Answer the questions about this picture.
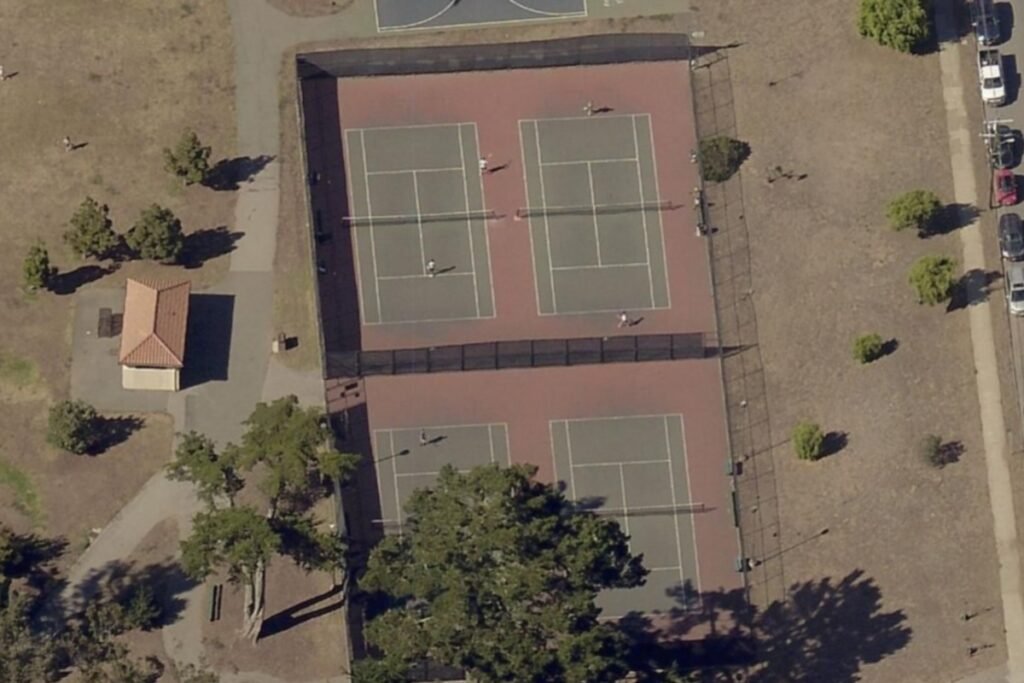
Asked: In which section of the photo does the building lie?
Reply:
left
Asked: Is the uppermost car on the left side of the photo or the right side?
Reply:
right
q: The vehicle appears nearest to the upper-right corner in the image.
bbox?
[973,0,999,43]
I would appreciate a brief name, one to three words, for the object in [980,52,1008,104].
truck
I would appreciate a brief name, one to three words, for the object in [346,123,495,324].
tennis court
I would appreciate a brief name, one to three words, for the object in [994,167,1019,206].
car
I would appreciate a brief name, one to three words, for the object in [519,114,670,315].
tennis court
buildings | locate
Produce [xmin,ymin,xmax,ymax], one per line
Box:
[119,278,191,389]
